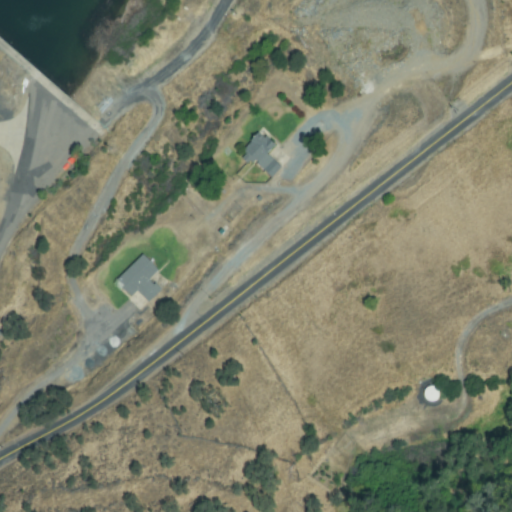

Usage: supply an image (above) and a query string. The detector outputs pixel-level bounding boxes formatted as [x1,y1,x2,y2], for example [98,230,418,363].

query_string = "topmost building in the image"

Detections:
[238,132,282,176]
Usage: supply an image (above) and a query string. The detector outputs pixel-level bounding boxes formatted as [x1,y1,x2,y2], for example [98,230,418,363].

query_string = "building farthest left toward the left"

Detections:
[118,254,160,301]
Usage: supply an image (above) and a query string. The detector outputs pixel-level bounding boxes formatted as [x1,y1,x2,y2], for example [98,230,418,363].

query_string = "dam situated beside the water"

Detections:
[0,38,104,134]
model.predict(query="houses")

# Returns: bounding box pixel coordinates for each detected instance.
[118,254,160,301]
[238,132,282,176]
